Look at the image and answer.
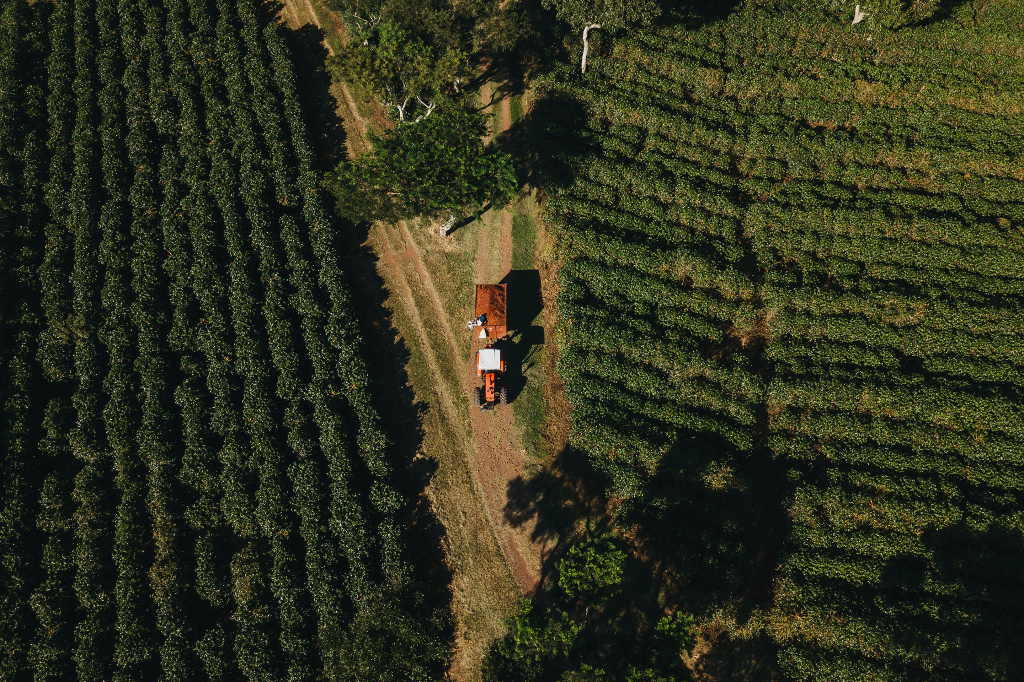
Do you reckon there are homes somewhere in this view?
No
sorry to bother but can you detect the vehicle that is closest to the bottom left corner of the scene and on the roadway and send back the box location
[474,349,507,411]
